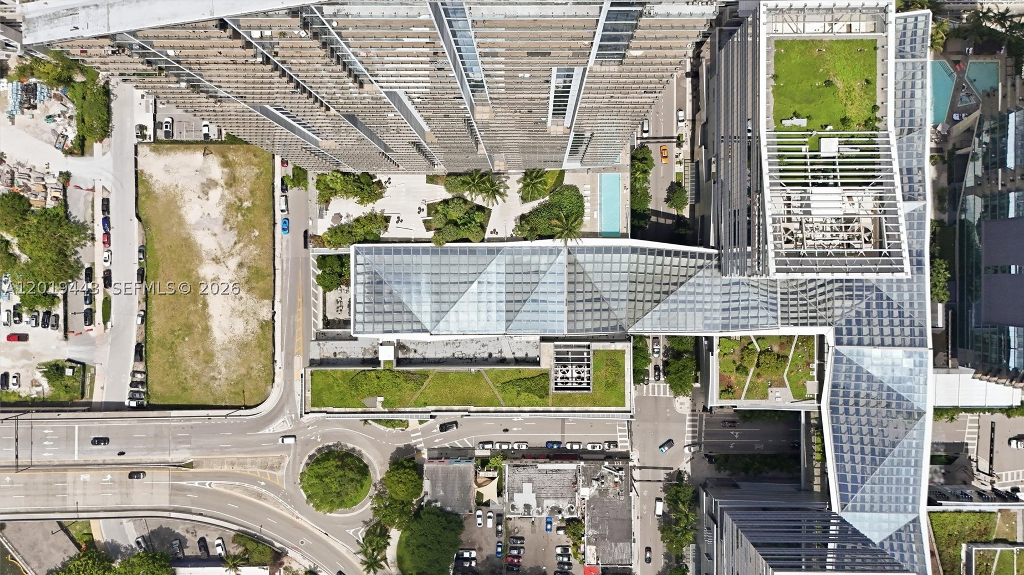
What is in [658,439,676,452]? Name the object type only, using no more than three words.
vehicle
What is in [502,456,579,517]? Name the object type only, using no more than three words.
building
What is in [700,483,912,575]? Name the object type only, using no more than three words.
building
